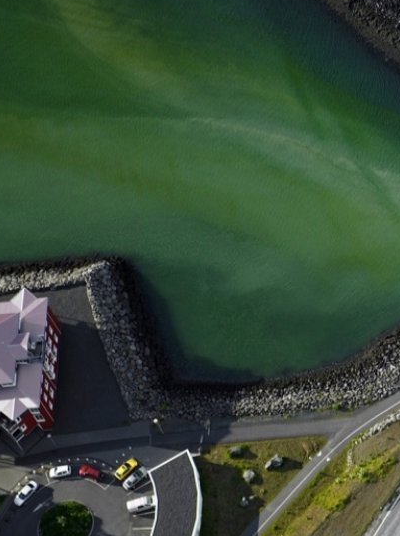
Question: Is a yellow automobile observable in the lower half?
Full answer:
Yes, a yellow automobile shows up in the lower half.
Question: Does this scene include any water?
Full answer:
Yes, water can be seen from above here.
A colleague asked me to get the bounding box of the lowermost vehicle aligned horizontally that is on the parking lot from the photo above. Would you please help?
[126,496,155,514]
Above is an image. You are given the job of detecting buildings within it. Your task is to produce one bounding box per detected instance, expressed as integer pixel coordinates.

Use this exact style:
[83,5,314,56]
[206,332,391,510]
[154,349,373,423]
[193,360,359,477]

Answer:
[147,449,202,536]
[0,291,54,464]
